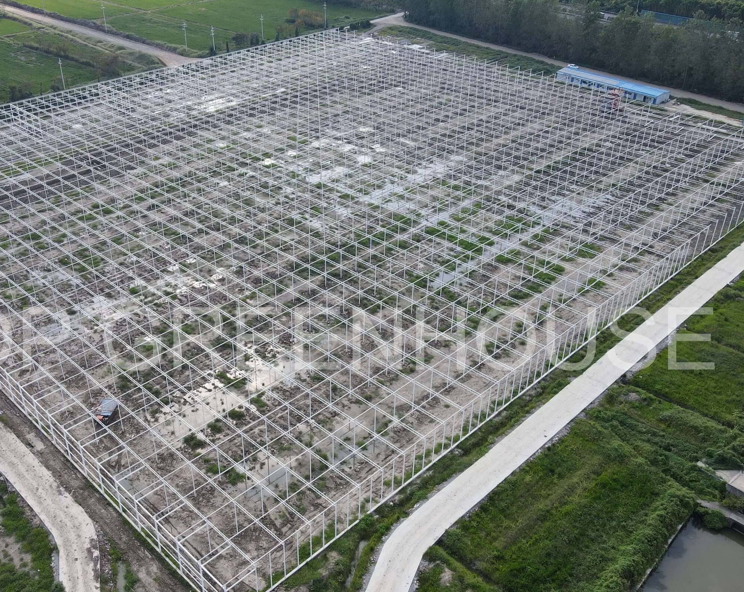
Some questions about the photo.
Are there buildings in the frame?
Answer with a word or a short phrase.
Yes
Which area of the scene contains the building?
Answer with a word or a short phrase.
top right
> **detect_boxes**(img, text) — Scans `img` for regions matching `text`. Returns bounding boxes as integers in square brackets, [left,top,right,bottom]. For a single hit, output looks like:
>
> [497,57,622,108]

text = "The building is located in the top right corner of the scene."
[553,67,673,105]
